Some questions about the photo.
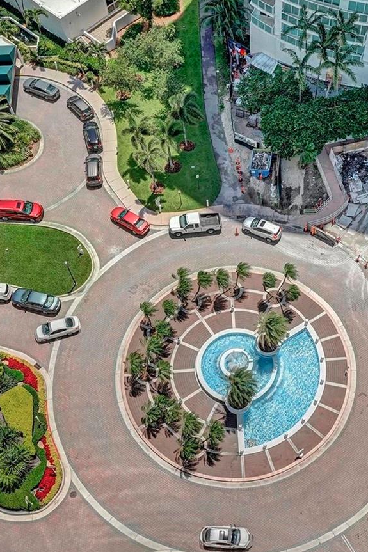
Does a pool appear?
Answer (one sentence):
Yes, the frame does contain a pool.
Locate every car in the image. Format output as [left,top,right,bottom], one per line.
[21,78,62,102]
[199,524,251,552]
[109,208,151,236]
[11,290,61,316]
[63,93,97,122]
[83,154,104,190]
[81,119,105,154]
[240,217,285,244]
[33,318,83,345]
[0,198,42,221]
[0,283,13,304]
